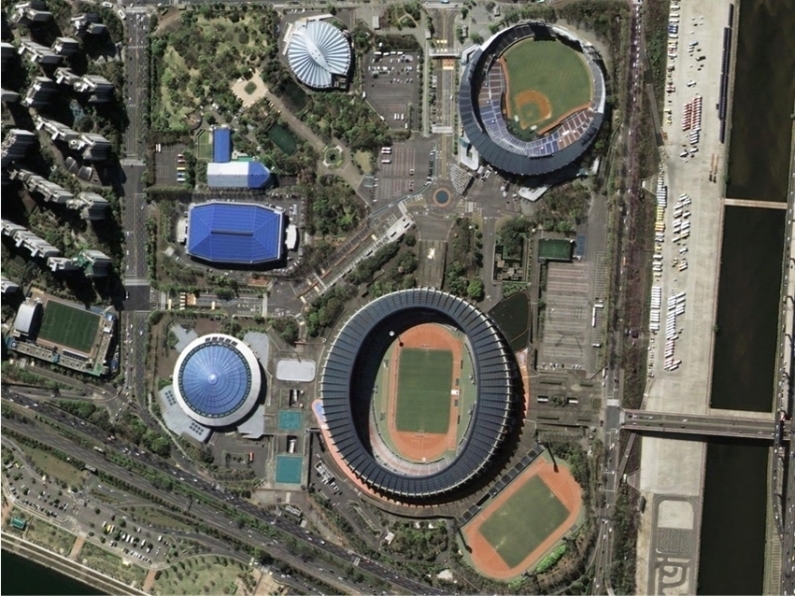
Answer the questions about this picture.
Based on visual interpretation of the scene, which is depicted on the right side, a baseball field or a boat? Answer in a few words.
baseball field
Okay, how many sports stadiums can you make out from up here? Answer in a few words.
two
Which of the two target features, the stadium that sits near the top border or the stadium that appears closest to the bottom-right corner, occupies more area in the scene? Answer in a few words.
the stadium that appears closest to the bottom-right corner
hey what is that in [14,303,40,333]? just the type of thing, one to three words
building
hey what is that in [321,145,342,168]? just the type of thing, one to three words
fountain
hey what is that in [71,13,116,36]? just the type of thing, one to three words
building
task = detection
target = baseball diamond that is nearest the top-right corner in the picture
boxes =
[501,37,593,143]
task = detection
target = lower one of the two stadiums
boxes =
[319,283,521,503]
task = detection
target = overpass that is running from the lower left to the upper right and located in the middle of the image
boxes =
[319,219,415,296]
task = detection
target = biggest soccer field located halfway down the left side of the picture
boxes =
[30,290,106,363]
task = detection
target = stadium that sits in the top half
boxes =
[460,19,606,175]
